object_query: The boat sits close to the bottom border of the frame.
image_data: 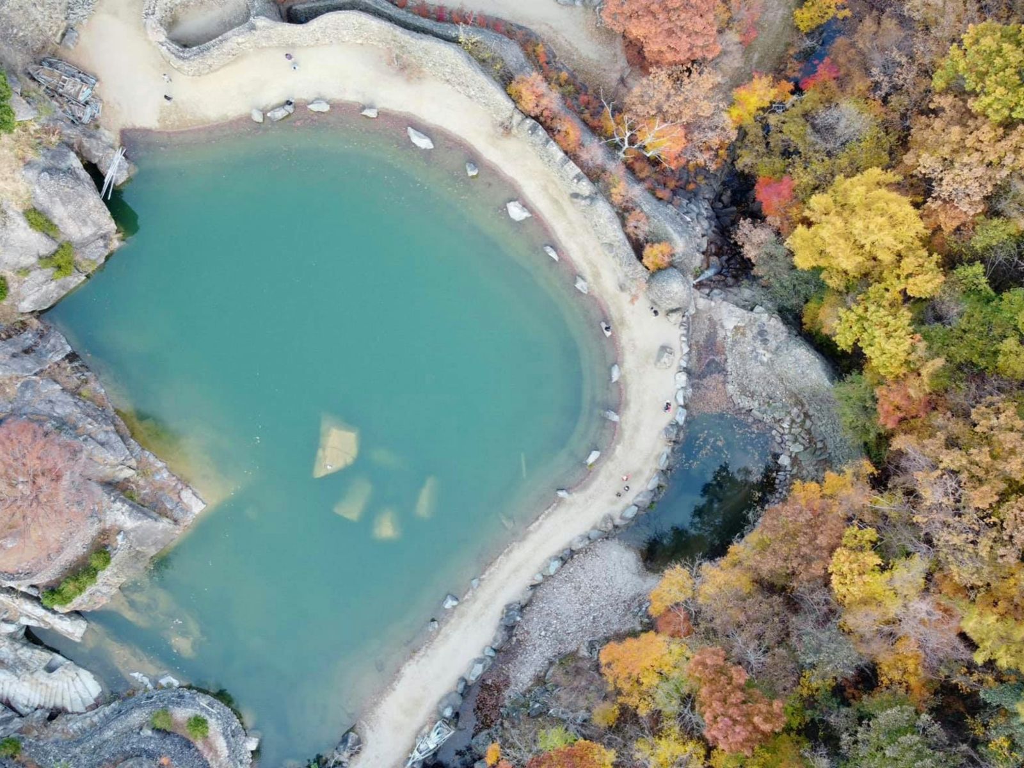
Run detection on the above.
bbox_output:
[406,718,454,768]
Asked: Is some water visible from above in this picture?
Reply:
Yes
